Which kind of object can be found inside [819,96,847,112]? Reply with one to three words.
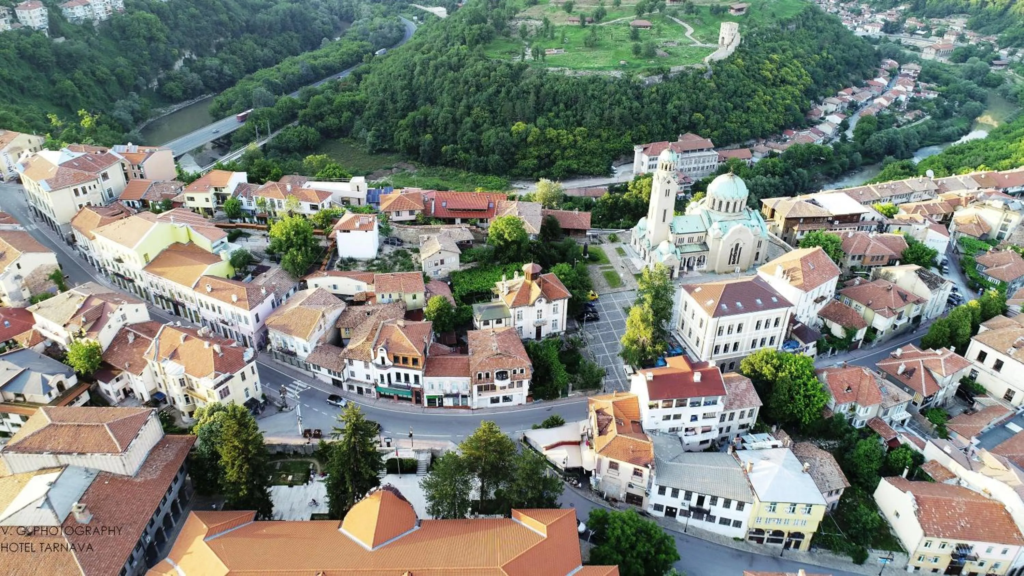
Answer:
house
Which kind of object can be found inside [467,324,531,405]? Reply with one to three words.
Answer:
house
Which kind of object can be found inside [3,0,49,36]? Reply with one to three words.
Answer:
building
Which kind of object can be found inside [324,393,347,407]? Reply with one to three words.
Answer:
car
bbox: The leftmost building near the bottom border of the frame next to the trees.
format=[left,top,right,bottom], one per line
[0,406,208,576]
